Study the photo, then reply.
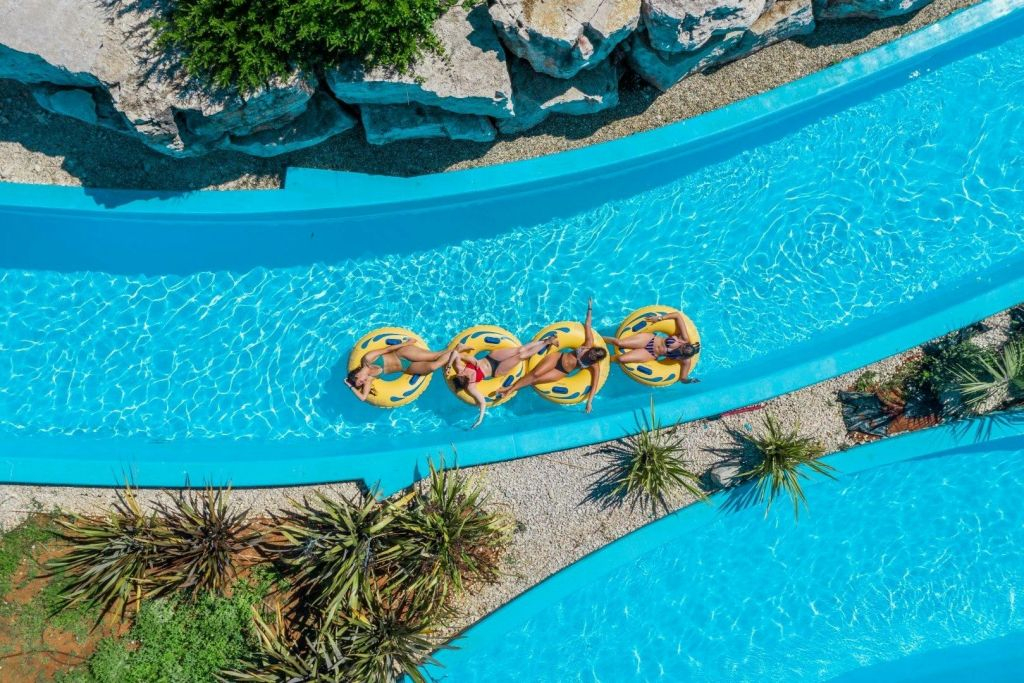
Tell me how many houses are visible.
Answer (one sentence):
There are no houses in this view.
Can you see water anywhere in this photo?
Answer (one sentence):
Yes, the picture does contain water.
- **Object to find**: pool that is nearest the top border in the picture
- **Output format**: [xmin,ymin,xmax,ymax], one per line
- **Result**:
[0,9,1024,462]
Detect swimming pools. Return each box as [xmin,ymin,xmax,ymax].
[454,435,1024,683]
[0,9,1024,462]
